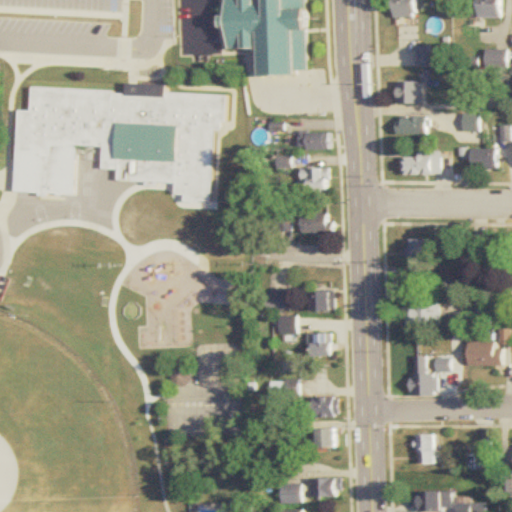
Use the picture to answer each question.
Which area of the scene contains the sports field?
bottom left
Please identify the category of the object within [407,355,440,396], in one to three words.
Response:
house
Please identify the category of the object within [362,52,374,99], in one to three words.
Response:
vehicle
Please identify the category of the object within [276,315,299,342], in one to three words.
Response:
building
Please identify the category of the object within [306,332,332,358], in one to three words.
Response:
house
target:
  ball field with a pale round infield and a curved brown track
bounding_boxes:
[0,312,134,512]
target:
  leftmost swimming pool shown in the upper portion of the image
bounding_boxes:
[252,128,272,146]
